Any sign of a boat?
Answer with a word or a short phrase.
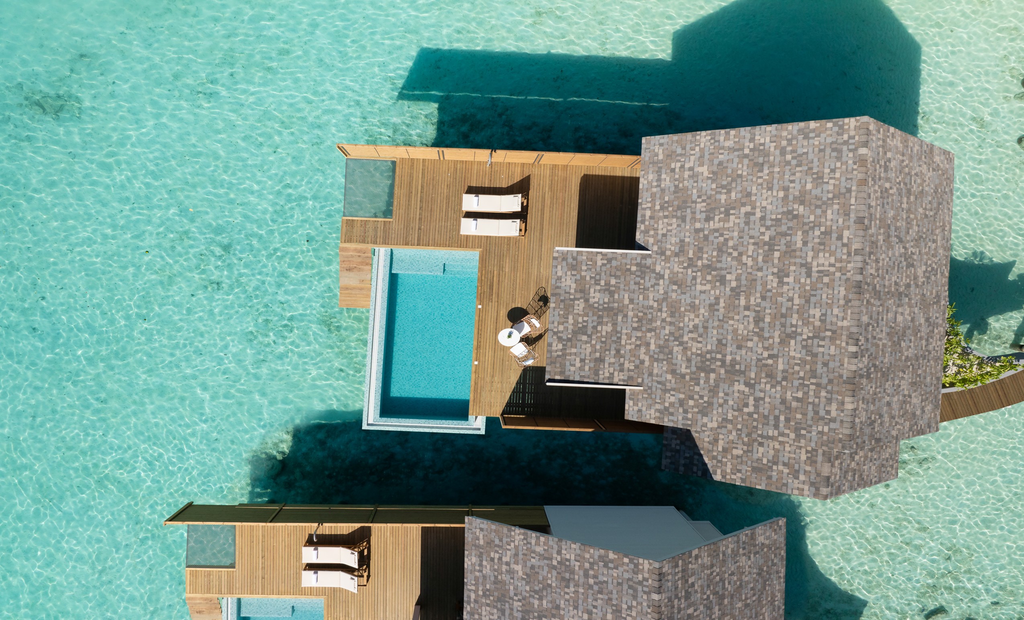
No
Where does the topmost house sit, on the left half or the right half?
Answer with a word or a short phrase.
right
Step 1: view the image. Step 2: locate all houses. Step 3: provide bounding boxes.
[544,115,956,501]
[465,506,782,620]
